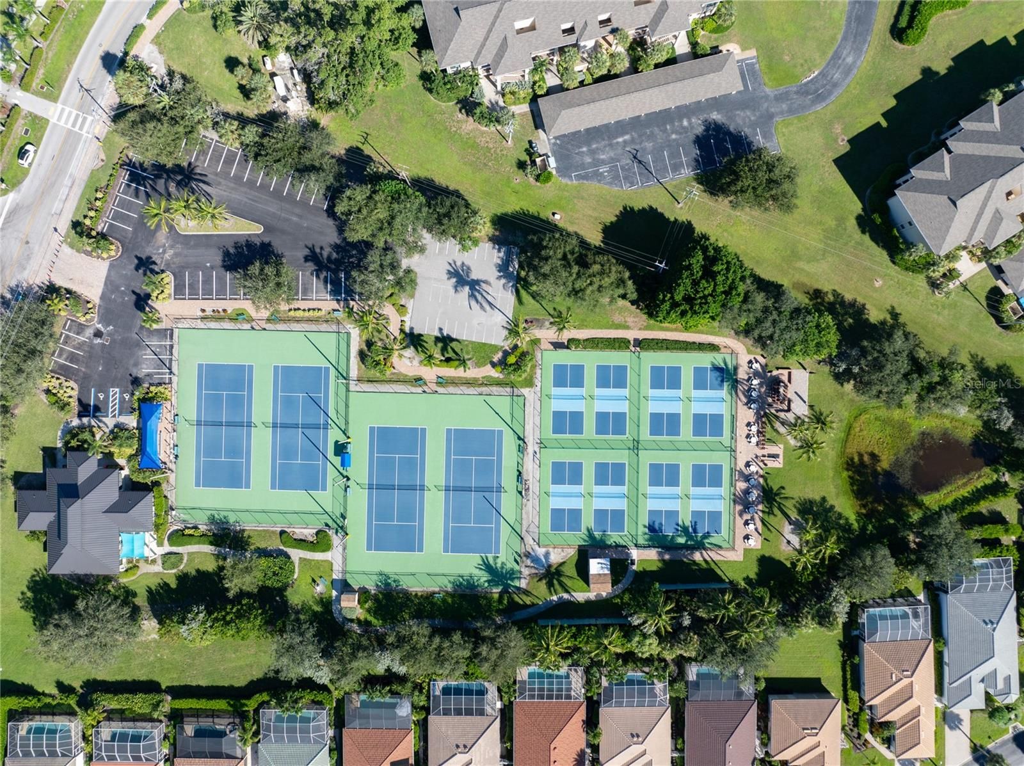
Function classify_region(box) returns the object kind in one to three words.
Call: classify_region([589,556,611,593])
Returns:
shed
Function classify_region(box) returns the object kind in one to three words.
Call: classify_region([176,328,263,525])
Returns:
tennis court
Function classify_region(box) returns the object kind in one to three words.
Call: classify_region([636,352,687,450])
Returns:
sports court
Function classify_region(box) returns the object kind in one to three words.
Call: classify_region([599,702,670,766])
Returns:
house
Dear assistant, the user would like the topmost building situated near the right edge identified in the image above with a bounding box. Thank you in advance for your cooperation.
[876,88,1024,259]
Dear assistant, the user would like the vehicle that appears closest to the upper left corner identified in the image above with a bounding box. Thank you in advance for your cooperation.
[16,142,35,166]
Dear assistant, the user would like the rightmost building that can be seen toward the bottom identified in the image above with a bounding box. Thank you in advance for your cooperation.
[941,590,1020,709]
